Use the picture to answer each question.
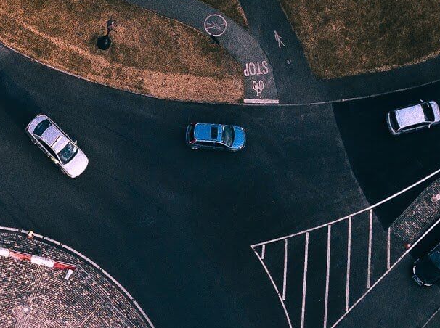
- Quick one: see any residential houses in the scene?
No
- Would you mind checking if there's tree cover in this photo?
No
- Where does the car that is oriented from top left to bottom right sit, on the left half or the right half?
left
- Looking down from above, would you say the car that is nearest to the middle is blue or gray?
blue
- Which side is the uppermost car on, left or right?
right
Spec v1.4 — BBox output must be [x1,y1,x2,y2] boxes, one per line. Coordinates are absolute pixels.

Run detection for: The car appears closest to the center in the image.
[186,120,246,153]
